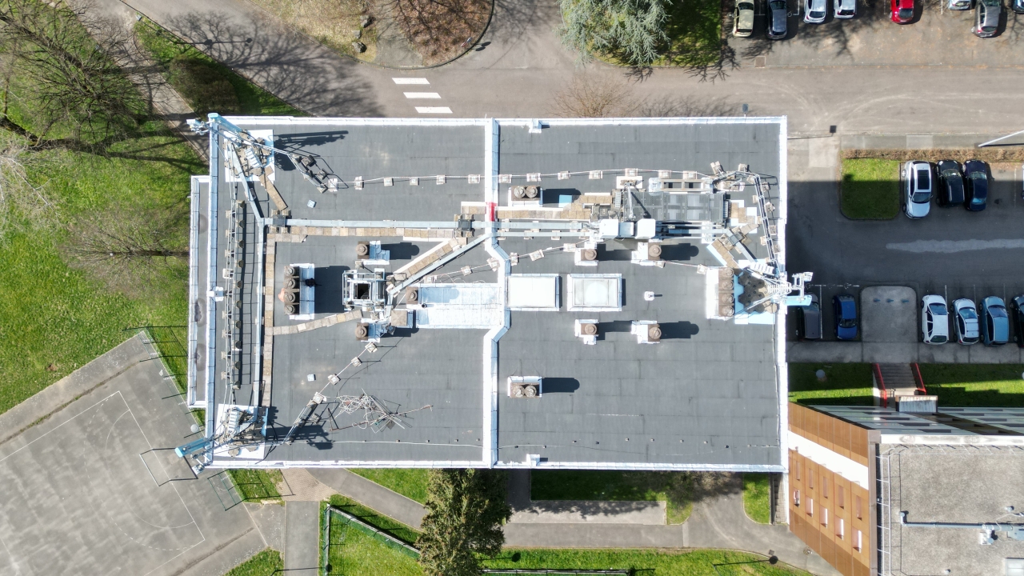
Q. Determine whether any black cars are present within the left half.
No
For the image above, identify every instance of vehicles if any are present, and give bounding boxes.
[978,297,1009,346]
[795,294,822,343]
[935,161,965,209]
[732,0,756,39]
[961,161,990,214]
[831,296,858,340]
[971,0,1003,39]
[902,163,934,219]
[763,0,790,42]
[948,299,978,344]
[1010,297,1024,347]
[800,0,824,26]
[887,0,912,25]
[828,0,853,21]
[919,296,949,345]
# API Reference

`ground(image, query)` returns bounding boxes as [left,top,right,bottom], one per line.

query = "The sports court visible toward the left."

[0,333,276,576]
